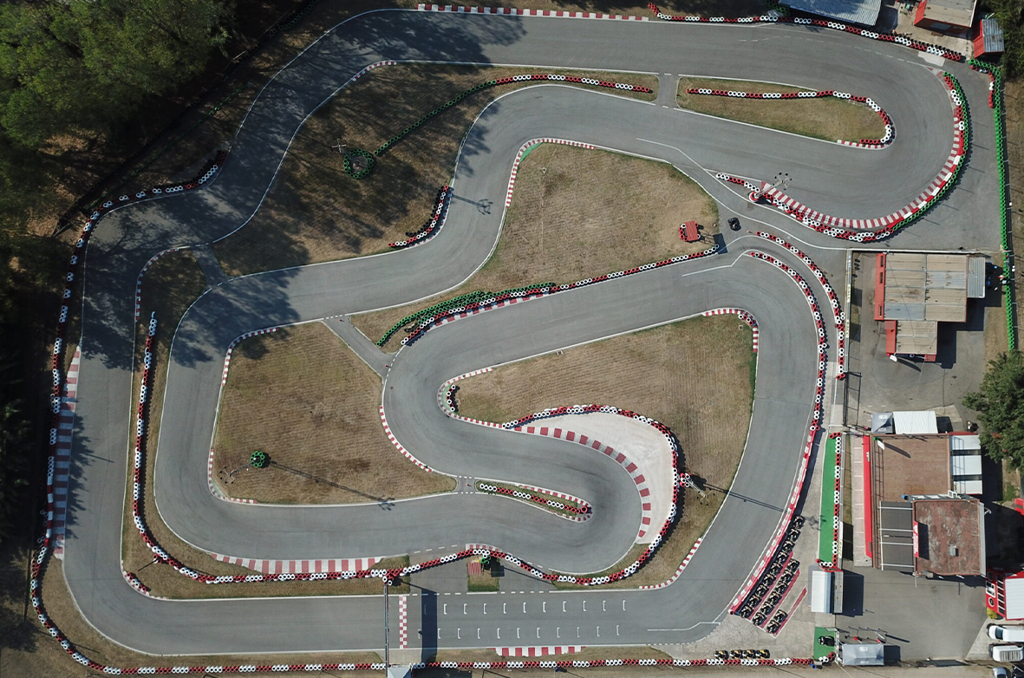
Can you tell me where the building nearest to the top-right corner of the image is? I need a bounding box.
[971,19,1004,59]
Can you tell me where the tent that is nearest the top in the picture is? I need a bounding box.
[864,411,893,433]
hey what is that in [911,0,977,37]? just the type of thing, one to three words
shed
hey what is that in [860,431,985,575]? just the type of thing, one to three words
building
